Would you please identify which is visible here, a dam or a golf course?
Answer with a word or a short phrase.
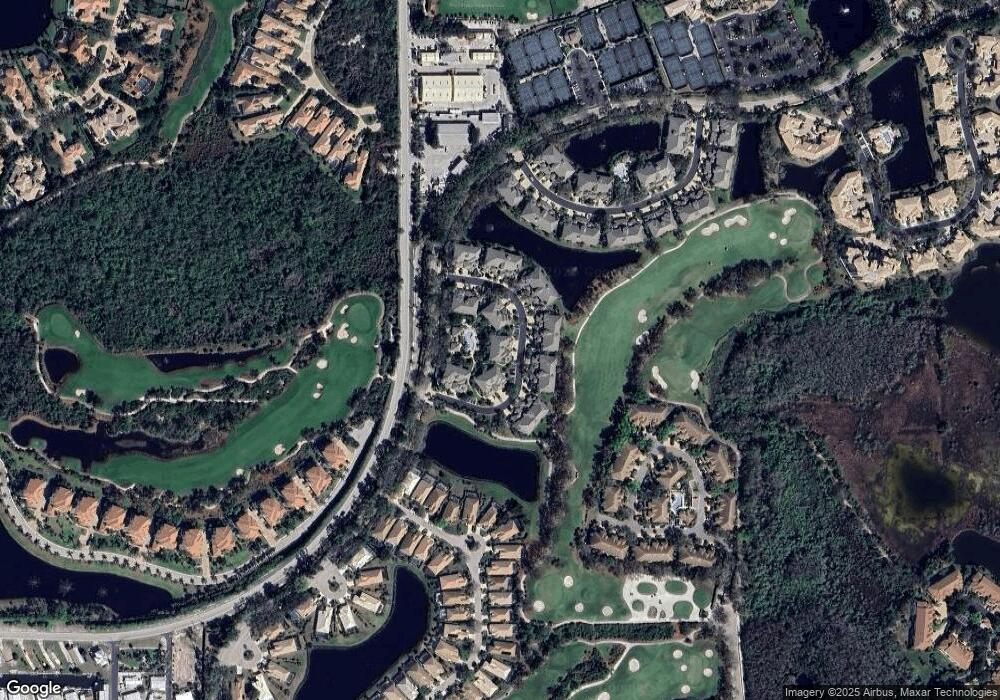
golf course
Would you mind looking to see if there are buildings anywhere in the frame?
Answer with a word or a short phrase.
Yes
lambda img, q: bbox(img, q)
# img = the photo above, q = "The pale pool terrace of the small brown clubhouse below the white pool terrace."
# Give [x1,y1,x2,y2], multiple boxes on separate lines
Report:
[669,490,686,514]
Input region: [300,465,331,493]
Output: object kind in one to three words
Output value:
house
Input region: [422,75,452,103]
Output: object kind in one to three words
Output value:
building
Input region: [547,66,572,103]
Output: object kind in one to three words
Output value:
tennis court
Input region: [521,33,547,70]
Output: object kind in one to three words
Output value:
tennis court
